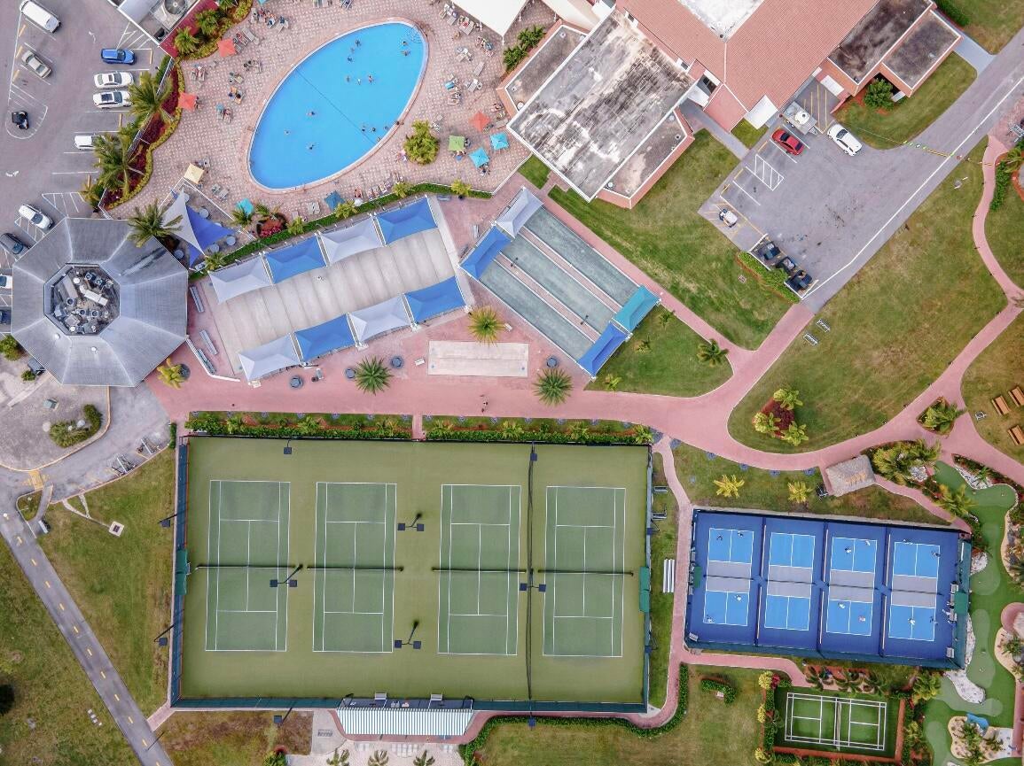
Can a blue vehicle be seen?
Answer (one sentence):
Yes, there is a blue vehicle in the image.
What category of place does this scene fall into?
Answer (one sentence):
This image shows a sports ground.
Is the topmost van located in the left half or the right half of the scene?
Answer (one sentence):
You can find the topmost van on the left side of the picture.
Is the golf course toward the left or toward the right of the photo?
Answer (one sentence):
It is on the right.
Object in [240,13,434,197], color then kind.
blue swimming pool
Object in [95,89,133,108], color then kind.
white car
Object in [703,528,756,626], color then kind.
blue sports court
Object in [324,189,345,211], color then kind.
blue umbrella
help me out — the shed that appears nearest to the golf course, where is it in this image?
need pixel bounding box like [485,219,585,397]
[821,455,874,497]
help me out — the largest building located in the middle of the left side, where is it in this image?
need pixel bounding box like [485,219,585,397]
[10,217,189,387]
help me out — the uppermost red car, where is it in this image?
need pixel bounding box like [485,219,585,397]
[769,127,805,157]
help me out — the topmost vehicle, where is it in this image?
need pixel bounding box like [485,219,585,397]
[13,0,69,40]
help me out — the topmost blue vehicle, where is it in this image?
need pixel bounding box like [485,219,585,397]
[100,46,137,66]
